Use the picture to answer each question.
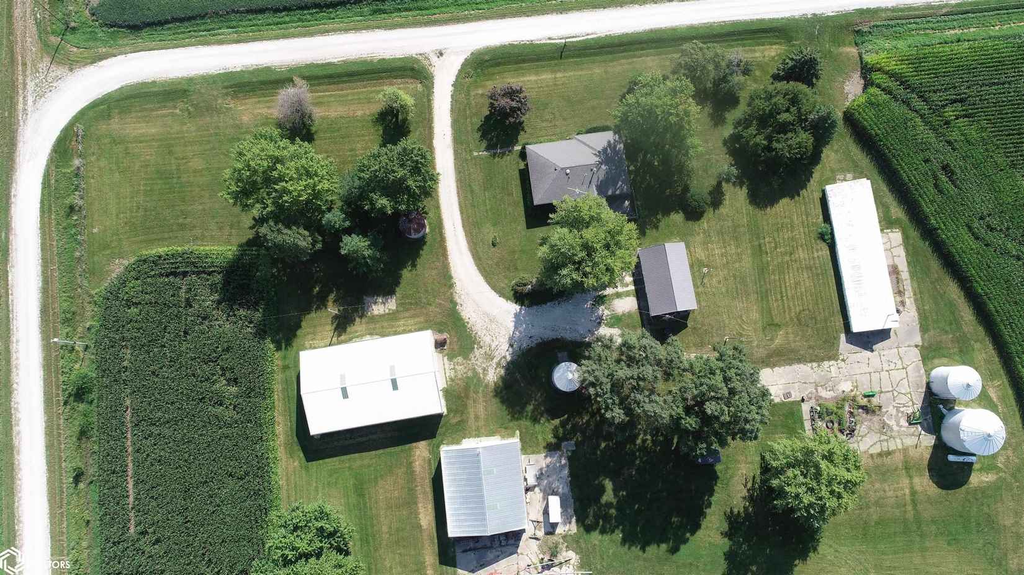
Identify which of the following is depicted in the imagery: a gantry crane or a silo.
silo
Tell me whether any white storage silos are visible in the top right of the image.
No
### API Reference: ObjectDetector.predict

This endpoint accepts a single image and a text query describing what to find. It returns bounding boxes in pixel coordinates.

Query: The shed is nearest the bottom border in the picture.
[441,441,527,537]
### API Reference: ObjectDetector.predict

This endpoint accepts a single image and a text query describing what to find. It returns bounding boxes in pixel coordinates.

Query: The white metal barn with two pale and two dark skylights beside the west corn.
[299,330,443,436]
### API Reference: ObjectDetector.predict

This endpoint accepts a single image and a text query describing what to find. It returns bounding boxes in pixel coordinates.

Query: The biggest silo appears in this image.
[940,407,1006,456]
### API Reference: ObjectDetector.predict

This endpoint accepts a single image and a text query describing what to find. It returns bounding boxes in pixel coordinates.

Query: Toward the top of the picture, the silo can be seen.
[399,211,429,241]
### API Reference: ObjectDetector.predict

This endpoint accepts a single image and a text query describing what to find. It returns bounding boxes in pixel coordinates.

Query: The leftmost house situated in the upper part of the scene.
[525,130,634,206]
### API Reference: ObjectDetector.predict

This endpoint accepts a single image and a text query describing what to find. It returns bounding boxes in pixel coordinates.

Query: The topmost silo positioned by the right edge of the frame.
[929,366,982,400]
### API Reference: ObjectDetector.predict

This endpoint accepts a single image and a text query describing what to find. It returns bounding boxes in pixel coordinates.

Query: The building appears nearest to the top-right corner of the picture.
[820,179,902,333]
